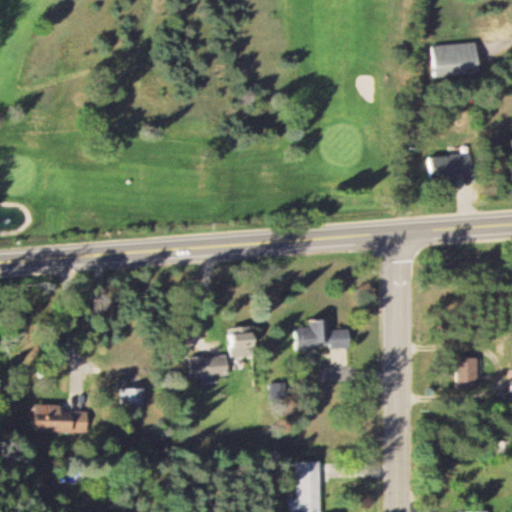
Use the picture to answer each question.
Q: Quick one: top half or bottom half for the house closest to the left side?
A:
bottom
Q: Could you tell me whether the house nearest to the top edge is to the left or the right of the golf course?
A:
to its right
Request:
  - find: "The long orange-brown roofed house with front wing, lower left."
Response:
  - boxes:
[34,402,91,434]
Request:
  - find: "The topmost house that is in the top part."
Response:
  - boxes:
[432,42,482,80]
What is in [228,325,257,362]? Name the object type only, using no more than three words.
house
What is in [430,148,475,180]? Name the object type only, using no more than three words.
house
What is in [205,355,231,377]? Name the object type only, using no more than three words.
building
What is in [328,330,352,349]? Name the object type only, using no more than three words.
building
